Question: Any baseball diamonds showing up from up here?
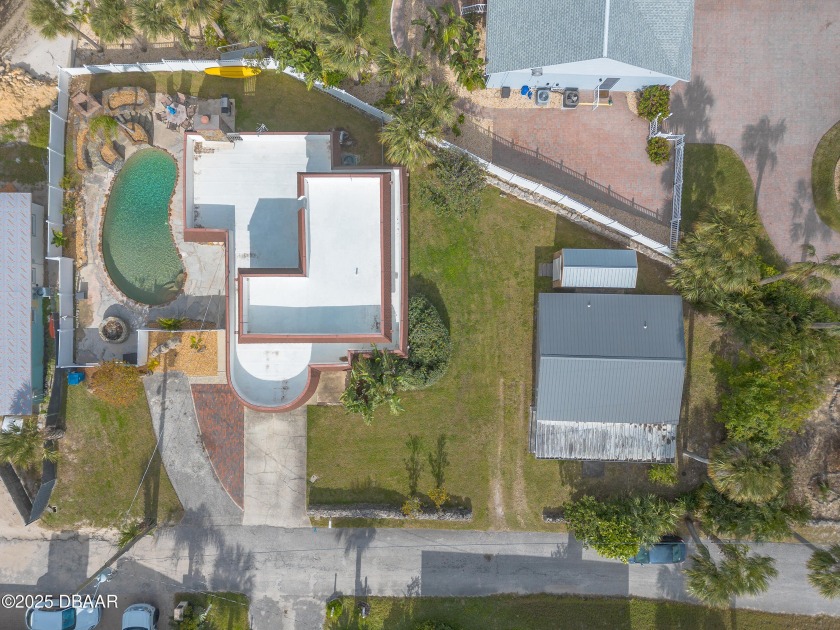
No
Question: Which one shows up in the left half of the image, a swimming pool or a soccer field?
swimming pool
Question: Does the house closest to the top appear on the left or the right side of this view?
right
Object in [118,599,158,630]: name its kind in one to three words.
car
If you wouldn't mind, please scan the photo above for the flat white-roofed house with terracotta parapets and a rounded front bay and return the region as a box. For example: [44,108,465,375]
[185,112,409,409]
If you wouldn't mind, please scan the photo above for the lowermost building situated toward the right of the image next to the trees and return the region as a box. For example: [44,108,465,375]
[531,293,687,463]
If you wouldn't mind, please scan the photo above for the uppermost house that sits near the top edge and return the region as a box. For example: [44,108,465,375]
[484,0,691,108]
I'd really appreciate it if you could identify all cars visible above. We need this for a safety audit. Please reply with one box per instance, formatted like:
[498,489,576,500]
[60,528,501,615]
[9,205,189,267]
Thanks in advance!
[21,601,102,630]
[118,599,158,630]
[617,535,692,572]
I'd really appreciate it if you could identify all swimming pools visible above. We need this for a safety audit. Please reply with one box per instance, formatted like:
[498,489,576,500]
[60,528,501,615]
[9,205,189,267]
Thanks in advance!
[97,142,189,307]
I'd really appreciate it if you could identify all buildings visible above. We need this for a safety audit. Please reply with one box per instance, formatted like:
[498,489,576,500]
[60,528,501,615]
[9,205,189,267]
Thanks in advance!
[0,193,43,415]
[555,249,638,289]
[484,0,691,108]
[531,293,687,463]
[185,112,409,409]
